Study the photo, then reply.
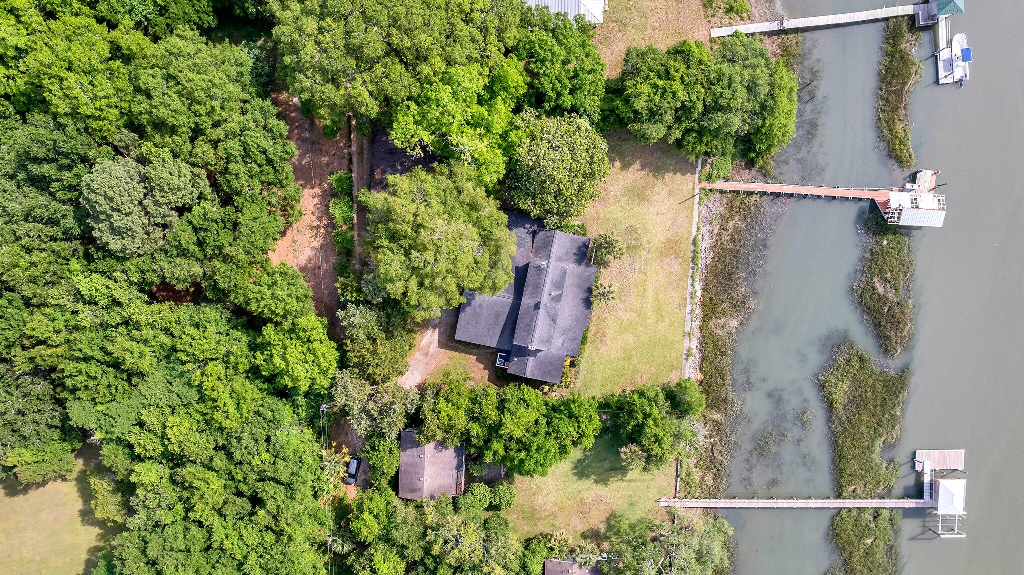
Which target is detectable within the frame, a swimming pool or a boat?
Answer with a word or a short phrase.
boat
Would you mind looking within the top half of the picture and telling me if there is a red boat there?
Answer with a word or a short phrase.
No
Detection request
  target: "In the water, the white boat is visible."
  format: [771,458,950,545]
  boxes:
[953,35,979,87]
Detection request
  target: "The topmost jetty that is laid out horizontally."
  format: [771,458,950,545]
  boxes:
[711,0,937,38]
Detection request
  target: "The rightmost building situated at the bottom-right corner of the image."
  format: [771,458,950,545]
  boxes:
[937,479,975,518]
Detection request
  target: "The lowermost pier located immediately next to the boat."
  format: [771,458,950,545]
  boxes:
[936,48,954,85]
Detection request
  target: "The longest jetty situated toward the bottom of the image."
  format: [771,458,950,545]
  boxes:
[655,480,967,510]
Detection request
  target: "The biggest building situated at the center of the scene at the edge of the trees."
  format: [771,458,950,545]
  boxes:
[455,229,597,383]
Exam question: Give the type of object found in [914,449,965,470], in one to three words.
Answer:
pier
